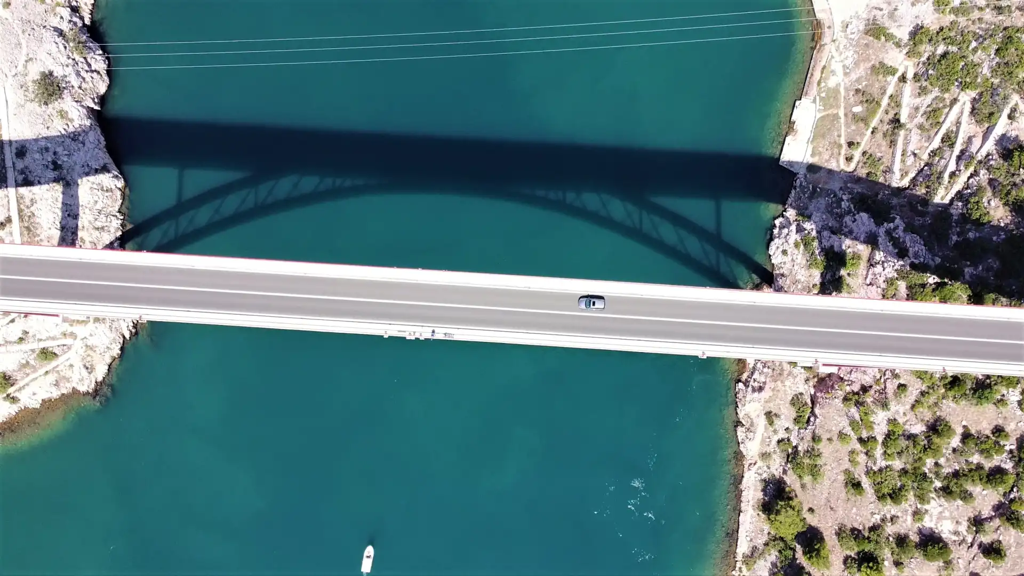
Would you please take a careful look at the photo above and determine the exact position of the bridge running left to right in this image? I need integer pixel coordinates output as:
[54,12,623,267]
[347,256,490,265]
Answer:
[0,242,1024,379]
